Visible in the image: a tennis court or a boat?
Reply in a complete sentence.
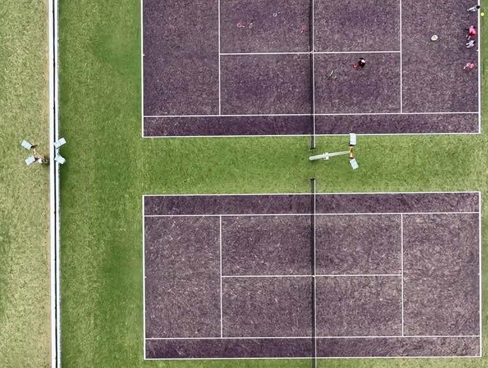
Of the two, only a tennis court appears.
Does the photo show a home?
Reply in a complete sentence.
No, no home can be seen from above.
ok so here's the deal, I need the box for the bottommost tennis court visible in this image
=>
[143,192,482,361]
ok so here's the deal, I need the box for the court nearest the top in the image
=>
[141,0,481,138]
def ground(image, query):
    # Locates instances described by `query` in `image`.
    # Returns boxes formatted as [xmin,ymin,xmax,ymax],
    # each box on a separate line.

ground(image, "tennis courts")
[141,0,481,138]
[143,192,482,361]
